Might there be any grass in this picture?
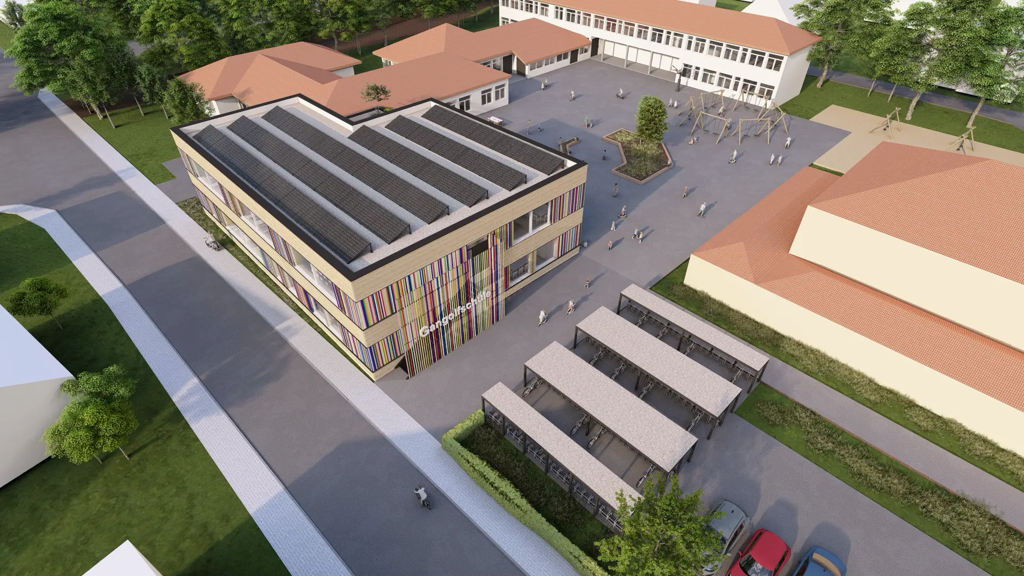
Yes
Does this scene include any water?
No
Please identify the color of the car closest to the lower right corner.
blue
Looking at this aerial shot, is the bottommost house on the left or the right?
left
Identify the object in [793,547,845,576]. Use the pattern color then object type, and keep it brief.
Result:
blue car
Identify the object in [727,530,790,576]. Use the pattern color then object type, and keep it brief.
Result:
red car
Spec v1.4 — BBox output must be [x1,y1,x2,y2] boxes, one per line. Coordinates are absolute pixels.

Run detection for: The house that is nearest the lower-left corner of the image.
[83,540,160,576]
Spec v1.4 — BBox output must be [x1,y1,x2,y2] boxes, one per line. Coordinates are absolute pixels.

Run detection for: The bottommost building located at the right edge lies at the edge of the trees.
[687,141,1024,453]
